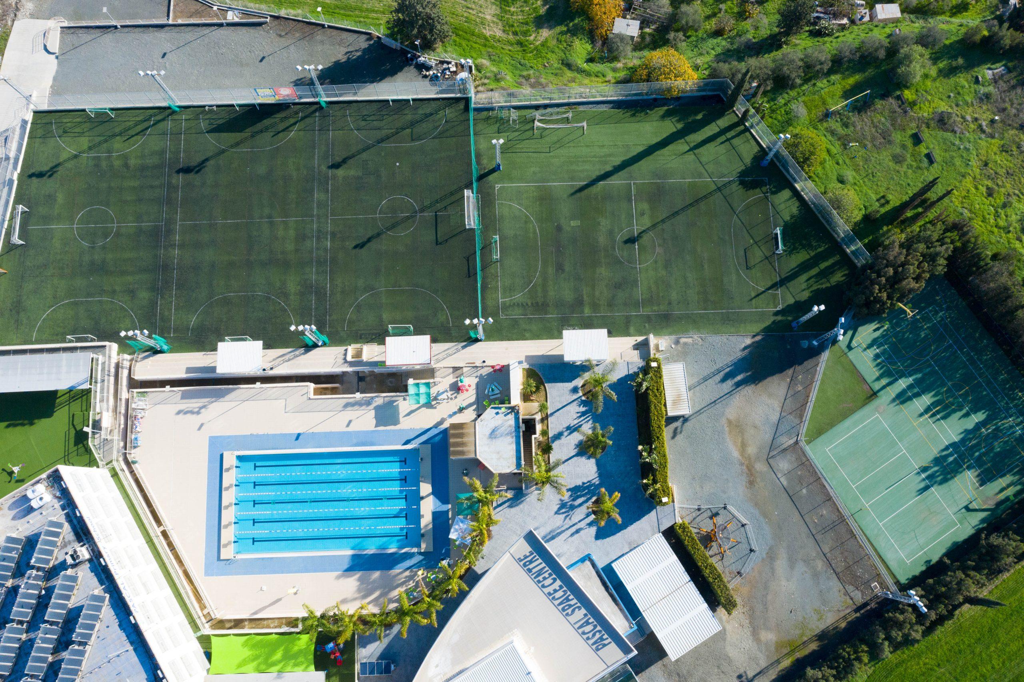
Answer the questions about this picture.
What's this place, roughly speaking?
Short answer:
sports ground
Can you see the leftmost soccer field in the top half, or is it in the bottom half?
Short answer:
top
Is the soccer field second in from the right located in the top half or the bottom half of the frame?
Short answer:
top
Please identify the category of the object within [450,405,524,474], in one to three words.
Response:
building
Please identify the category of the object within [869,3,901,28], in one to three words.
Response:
shed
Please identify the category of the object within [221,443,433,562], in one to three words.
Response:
swimming pool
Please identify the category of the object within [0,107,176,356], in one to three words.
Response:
soccer field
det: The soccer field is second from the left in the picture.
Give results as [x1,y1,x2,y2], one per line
[165,102,324,352]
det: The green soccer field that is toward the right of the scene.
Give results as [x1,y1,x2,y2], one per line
[473,102,860,342]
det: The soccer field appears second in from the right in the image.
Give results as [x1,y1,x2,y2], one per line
[321,98,481,347]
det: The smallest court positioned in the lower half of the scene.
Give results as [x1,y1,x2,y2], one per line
[808,338,975,584]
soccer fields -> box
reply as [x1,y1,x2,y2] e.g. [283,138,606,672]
[165,102,324,352]
[473,102,860,342]
[0,107,176,356]
[321,98,481,347]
